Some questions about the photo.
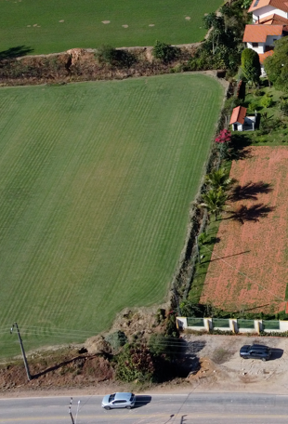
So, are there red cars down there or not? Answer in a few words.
No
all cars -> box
[101,390,136,409]
[239,343,272,361]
